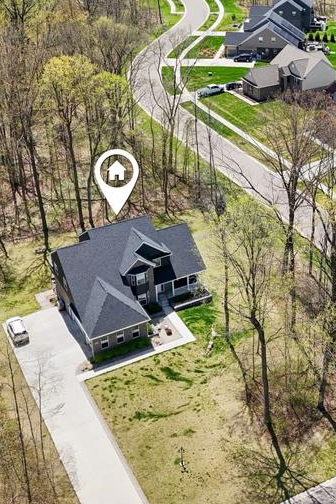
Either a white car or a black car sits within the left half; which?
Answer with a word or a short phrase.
white car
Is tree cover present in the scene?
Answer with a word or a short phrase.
Yes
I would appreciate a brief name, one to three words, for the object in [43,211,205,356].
house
